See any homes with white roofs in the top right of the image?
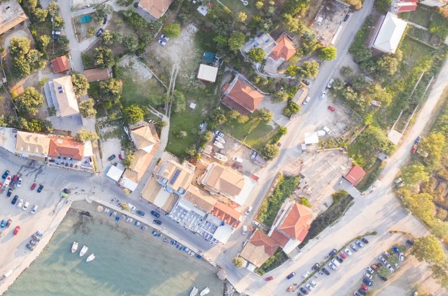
Yes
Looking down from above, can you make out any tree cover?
Yes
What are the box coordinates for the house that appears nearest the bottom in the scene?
[236,229,281,268]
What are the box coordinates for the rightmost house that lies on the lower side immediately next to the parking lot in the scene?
[265,201,315,256]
